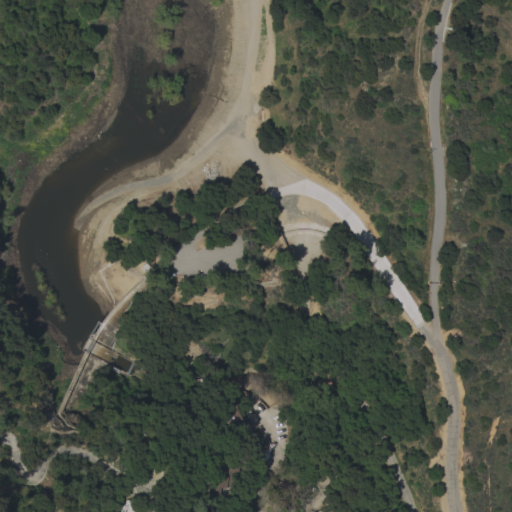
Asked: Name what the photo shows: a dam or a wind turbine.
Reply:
dam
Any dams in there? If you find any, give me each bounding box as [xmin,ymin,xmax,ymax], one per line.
[58,276,148,416]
